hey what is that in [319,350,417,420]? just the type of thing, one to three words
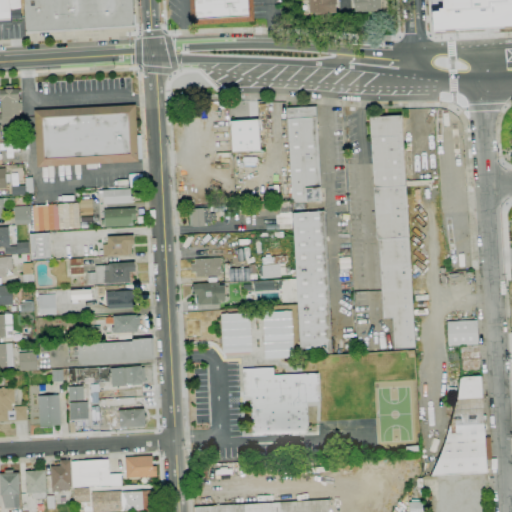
sports field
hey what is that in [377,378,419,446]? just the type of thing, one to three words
basketball court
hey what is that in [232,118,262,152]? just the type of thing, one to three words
building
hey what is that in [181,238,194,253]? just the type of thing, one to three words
vehicle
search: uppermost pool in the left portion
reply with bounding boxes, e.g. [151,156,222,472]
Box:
[36,262,57,288]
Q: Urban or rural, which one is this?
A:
urban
